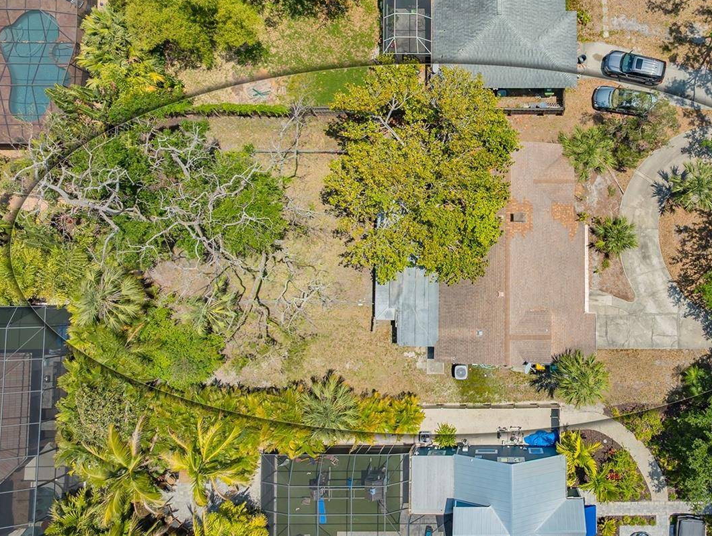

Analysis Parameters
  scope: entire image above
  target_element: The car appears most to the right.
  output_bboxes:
[671,513,701,536]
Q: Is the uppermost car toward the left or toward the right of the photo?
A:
right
